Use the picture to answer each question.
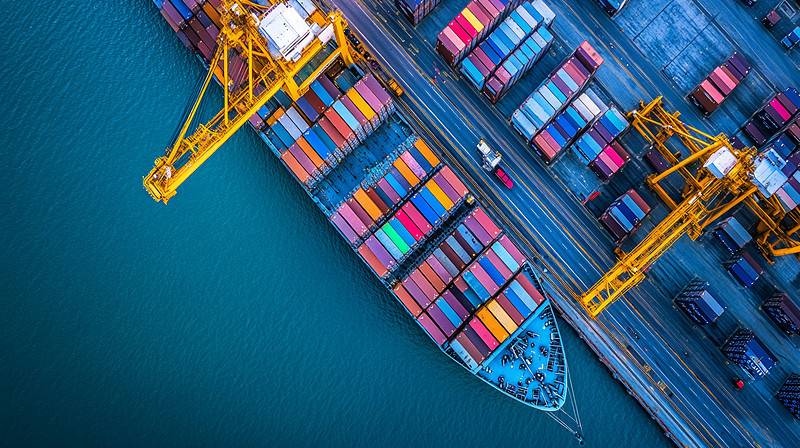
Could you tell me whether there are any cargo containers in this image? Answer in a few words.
Yes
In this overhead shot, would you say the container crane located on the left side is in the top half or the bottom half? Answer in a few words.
top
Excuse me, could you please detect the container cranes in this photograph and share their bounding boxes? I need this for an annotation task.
[573,86,800,322]
[720,144,800,262]
[130,0,368,213]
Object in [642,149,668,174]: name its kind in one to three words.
shipping container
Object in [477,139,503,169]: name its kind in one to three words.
truck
